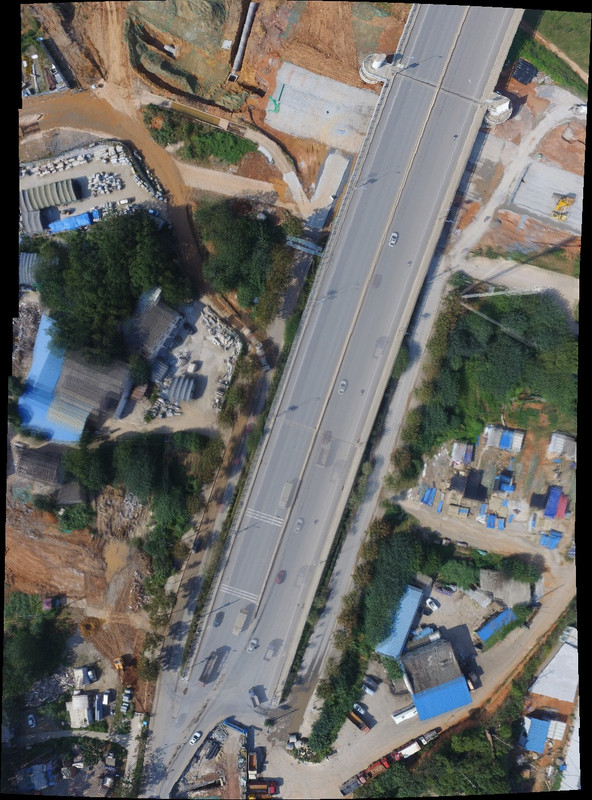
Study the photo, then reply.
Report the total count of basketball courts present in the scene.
0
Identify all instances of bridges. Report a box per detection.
[188,0,526,702]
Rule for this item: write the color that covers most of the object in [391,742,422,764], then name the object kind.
white truck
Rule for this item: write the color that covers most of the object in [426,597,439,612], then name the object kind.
white vehicle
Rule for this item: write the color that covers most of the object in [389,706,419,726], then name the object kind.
white vehicle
